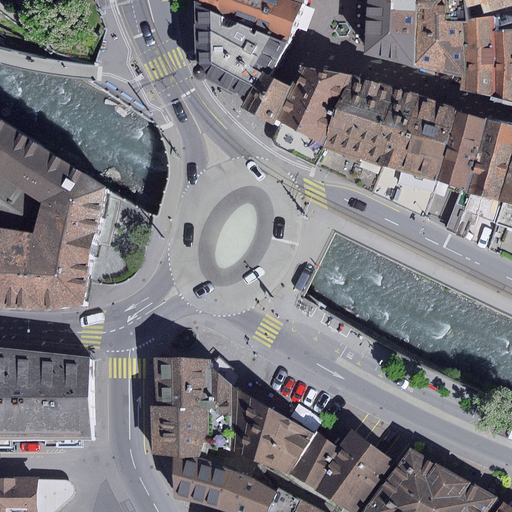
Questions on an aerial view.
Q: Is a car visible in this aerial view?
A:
Yes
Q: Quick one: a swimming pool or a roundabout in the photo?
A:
roundabout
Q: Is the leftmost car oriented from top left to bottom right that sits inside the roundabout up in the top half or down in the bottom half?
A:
top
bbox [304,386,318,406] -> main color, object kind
white car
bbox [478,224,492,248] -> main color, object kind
white car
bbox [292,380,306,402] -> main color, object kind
red car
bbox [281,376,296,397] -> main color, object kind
red car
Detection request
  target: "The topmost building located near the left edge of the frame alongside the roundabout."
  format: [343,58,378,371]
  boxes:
[0,120,107,308]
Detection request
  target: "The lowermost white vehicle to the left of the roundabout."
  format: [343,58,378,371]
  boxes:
[80,310,106,326]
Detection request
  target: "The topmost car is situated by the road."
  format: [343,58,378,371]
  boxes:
[139,20,156,45]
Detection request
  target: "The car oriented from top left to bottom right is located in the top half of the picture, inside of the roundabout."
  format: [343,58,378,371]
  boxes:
[246,160,266,181]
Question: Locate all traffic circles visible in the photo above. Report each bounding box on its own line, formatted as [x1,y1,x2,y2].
[165,131,303,316]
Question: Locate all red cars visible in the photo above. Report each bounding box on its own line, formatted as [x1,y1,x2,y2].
[292,380,306,402]
[281,376,296,397]
[20,442,40,452]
